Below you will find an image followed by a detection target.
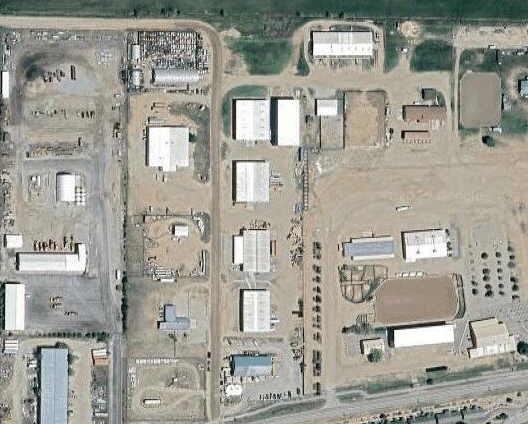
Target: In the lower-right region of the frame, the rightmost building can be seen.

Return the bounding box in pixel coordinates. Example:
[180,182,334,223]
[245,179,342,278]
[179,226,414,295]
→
[471,318,518,360]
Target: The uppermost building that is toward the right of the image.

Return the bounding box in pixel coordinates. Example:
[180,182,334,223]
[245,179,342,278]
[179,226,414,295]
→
[313,31,373,57]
